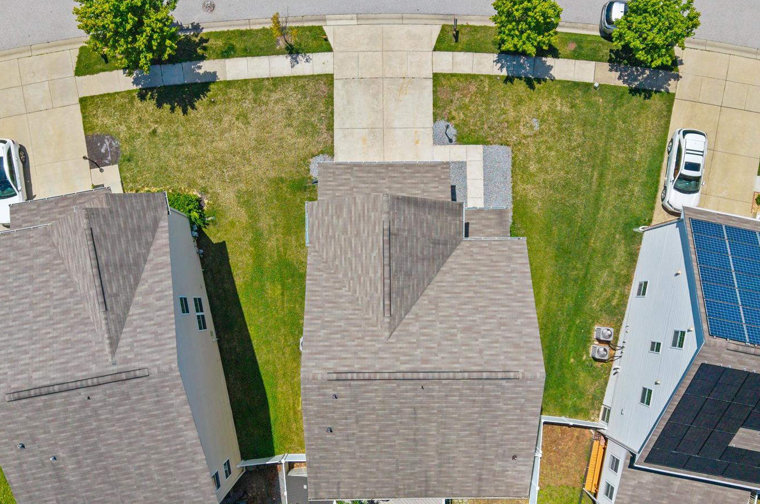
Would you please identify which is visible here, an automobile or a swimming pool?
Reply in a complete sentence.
Of the two, only an automobile appears.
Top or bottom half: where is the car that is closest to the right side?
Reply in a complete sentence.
It is in the top half that the car that is closest to the right side appears.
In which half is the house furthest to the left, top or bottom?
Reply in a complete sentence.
It is in the bottom half that the house furthest to the left appears.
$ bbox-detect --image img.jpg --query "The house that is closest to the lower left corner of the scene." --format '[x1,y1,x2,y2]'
[0,186,244,504]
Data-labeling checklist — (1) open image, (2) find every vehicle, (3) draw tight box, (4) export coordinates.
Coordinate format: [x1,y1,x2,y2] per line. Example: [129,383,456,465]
[660,129,712,210]
[0,139,32,228]
[594,2,649,46]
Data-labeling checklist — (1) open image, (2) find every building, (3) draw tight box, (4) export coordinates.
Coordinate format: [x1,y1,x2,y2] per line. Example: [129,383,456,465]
[592,204,760,504]
[301,160,545,502]
[0,186,244,504]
